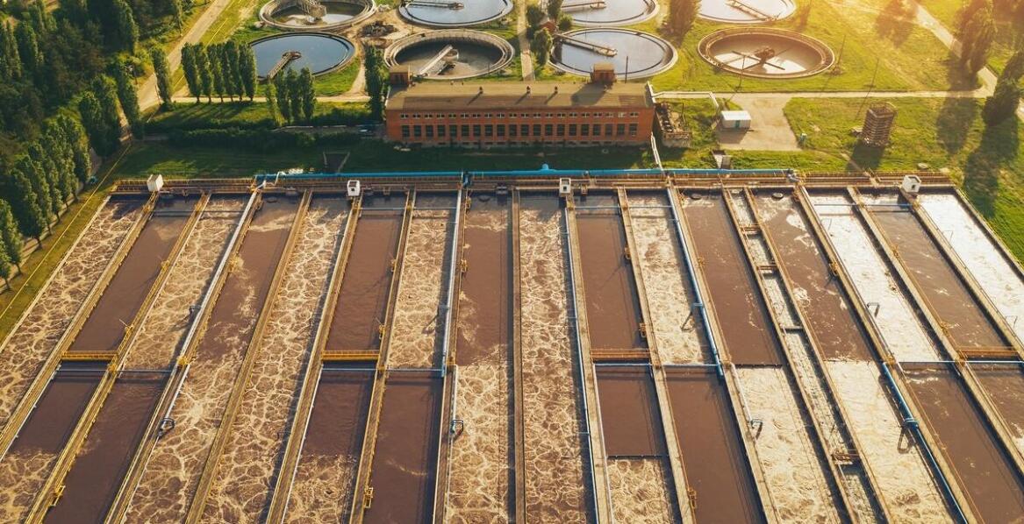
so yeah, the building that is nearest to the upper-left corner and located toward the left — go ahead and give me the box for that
[143,173,163,196]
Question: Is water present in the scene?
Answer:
Yes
